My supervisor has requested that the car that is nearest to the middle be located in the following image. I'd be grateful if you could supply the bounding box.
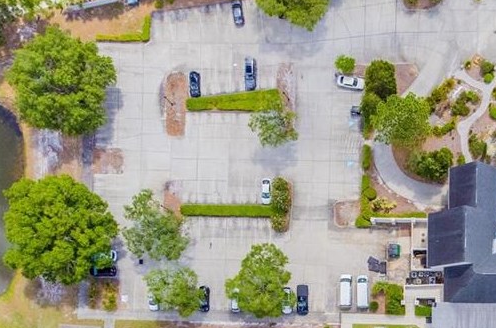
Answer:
[259,179,272,204]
